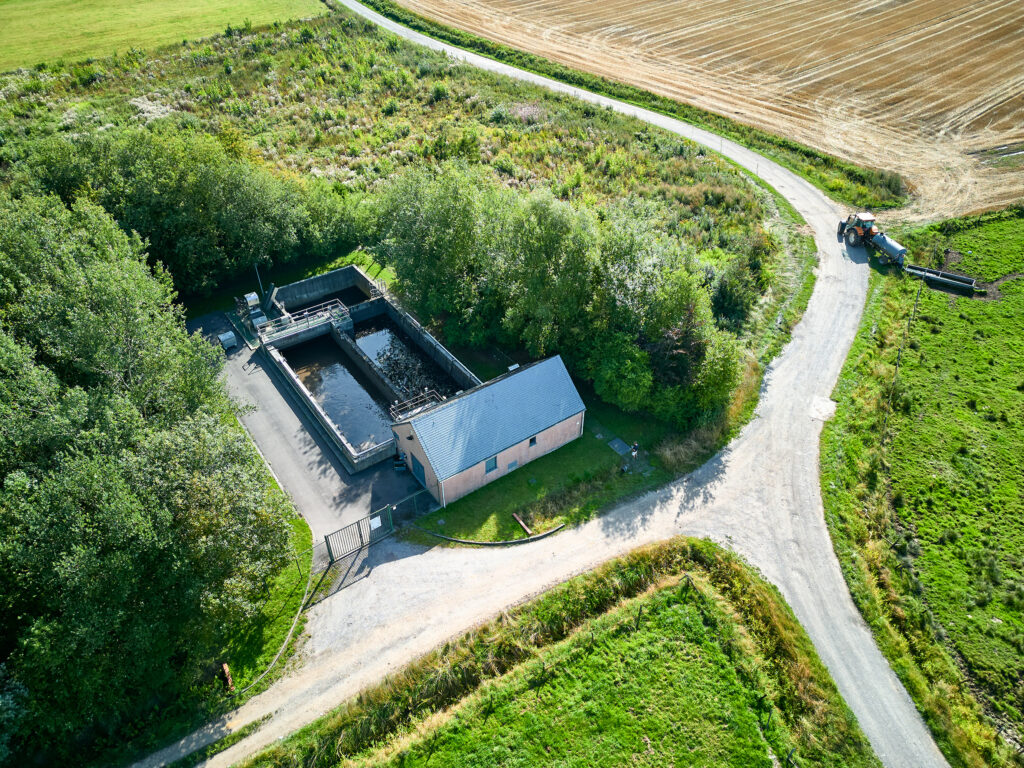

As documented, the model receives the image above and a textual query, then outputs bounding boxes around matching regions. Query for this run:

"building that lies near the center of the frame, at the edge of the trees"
[392,353,586,508]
